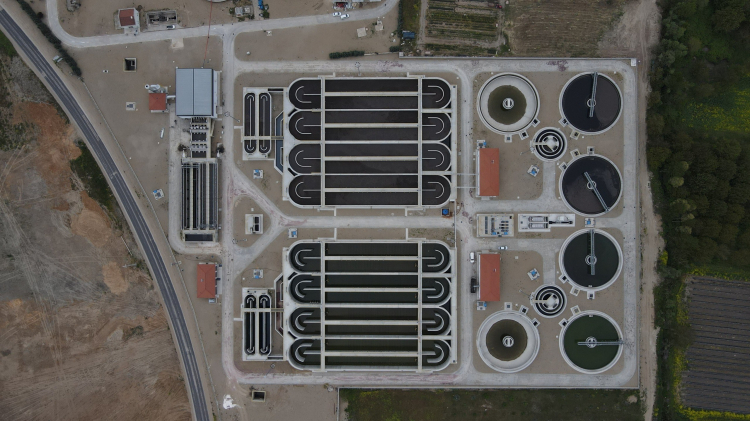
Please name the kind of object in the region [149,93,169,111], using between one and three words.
building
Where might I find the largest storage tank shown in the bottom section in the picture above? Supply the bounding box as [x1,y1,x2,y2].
[283,228,457,372]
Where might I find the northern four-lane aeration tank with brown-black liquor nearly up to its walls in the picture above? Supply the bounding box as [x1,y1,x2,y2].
[283,71,457,216]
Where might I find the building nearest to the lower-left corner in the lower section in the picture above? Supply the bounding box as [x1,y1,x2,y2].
[197,264,218,299]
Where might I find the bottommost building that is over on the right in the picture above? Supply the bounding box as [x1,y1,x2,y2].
[478,253,500,301]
